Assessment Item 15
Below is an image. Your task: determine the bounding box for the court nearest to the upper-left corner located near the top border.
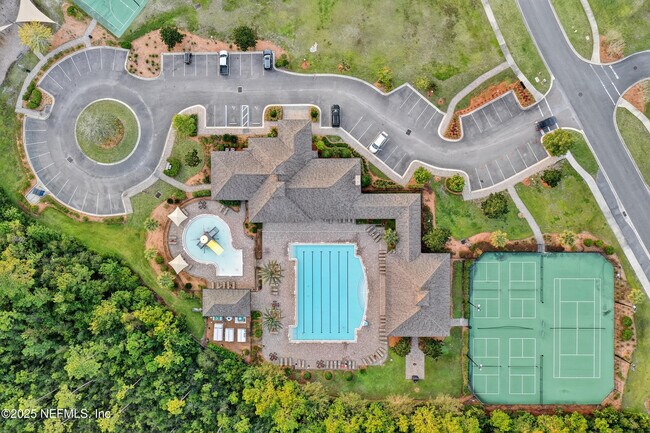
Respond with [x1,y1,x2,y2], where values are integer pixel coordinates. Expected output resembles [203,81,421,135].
[77,0,151,37]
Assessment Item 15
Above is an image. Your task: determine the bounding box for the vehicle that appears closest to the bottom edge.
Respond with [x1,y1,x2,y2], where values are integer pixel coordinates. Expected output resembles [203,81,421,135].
[371,130,388,152]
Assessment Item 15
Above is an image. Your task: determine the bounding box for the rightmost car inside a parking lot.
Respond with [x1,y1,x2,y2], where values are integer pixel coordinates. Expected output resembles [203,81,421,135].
[535,116,557,130]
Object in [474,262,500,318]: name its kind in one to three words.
sports court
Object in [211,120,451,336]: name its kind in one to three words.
building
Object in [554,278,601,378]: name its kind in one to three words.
tennis court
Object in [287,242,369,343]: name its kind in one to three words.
swimming pool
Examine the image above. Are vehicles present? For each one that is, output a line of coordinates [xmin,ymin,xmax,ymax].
[371,130,388,152]
[535,116,557,130]
[331,105,340,128]
[263,50,272,70]
[219,51,229,76]
[183,53,191,65]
